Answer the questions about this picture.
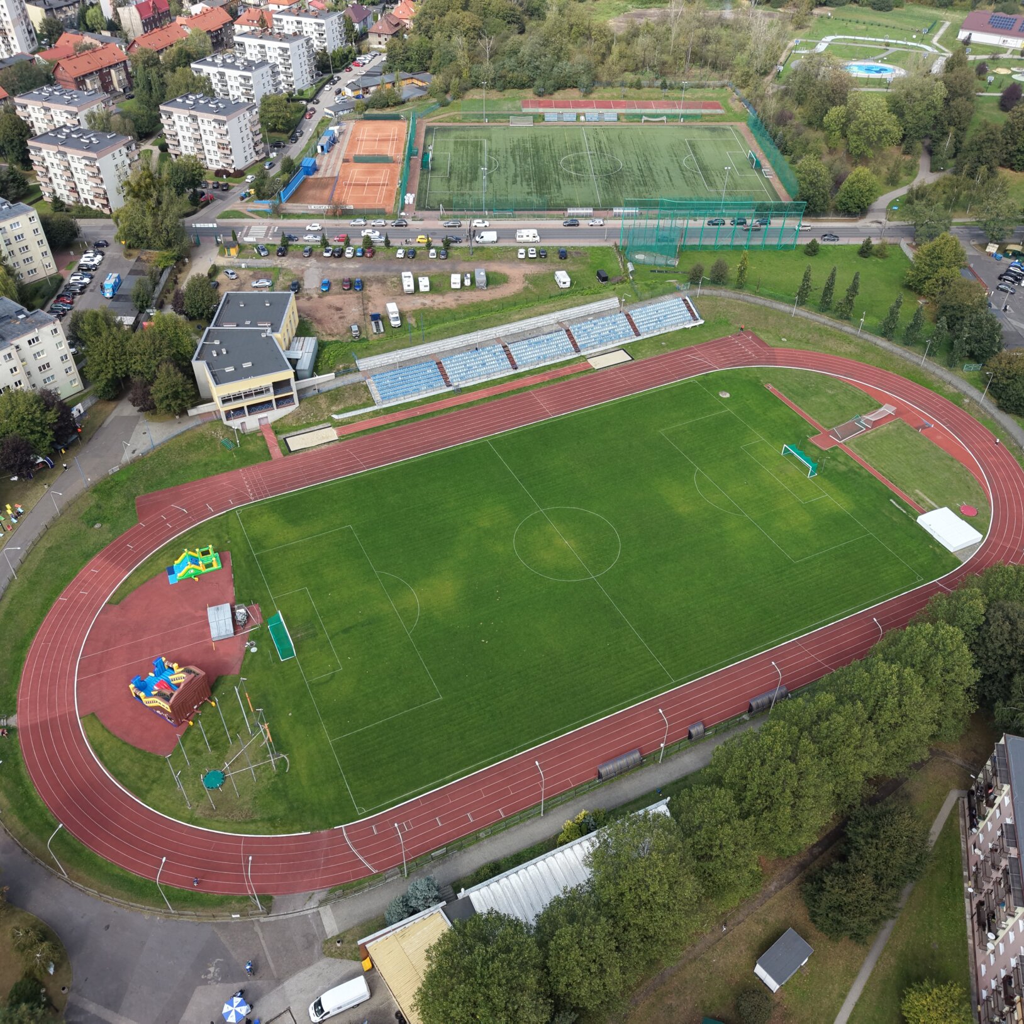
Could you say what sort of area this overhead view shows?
sports ground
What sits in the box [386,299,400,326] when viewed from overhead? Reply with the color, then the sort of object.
white vehicle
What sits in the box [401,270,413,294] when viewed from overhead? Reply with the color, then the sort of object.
white vehicle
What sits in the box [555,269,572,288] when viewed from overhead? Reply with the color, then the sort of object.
white camper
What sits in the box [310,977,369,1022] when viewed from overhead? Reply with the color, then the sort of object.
white van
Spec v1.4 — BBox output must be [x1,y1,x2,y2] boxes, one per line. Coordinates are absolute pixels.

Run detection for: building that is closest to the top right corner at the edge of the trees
[957,10,1024,49]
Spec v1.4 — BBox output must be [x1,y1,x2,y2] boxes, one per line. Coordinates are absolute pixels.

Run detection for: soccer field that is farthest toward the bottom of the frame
[237,380,922,813]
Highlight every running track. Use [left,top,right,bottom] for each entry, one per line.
[15,348,1024,897]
